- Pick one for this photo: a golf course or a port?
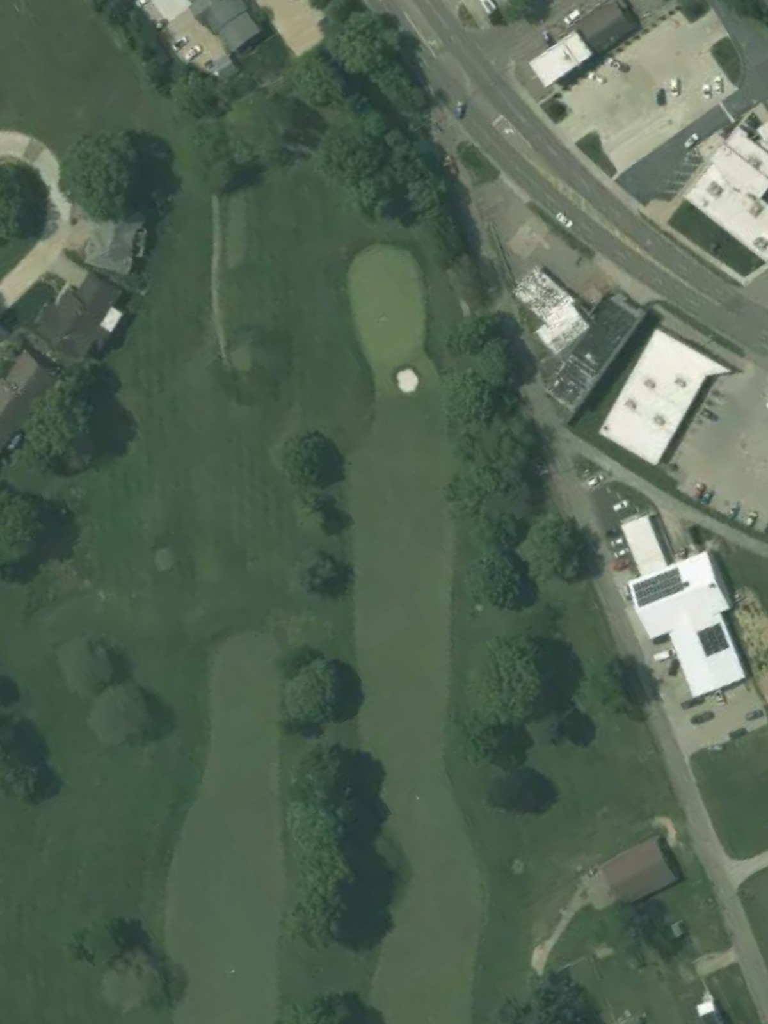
golf course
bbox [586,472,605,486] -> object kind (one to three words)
vehicle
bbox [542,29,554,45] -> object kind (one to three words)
vehicle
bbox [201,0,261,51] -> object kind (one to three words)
house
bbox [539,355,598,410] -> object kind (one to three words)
building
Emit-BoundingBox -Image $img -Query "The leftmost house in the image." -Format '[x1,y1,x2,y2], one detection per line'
[0,352,53,448]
